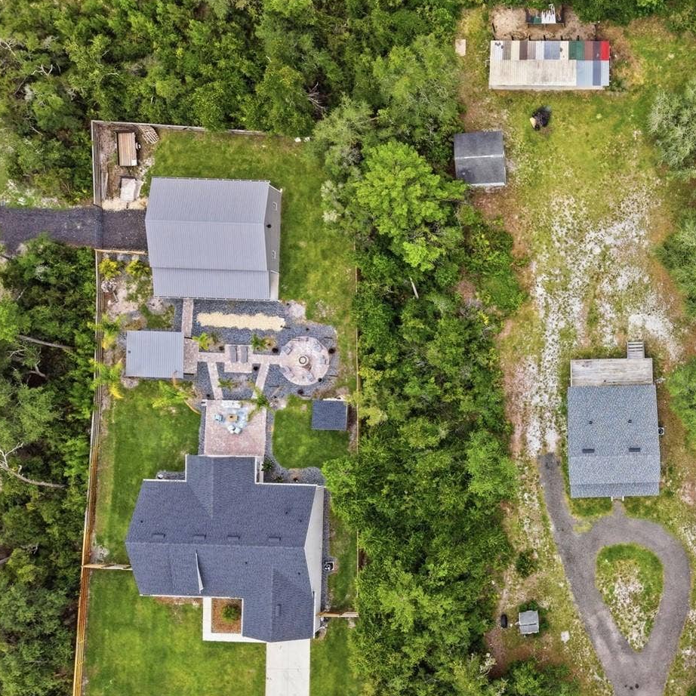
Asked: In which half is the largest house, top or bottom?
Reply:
bottom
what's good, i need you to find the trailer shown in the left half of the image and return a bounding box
[114,132,143,176]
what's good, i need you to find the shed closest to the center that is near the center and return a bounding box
[311,401,352,432]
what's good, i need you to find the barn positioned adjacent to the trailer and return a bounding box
[145,177,281,302]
